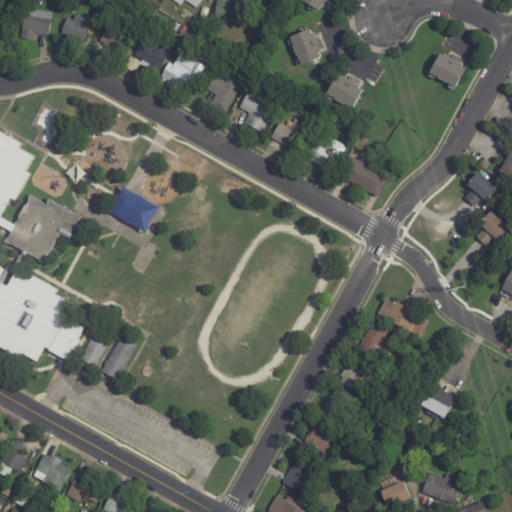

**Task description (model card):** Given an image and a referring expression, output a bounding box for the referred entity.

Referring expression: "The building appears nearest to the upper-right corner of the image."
[428,52,466,90]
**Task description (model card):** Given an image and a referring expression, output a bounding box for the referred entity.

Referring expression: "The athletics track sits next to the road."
[200,224,324,386]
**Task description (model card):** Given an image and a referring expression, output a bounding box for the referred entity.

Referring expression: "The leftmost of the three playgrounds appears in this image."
[33,167,67,198]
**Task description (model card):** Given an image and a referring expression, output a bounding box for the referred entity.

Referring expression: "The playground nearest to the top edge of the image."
[86,134,128,171]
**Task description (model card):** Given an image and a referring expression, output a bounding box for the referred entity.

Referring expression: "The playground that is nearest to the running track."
[143,174,176,204]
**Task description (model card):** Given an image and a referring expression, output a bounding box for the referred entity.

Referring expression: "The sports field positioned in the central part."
[208,230,318,377]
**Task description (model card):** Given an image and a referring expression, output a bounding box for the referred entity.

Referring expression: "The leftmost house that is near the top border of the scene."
[22,11,53,40]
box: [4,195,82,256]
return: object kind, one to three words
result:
building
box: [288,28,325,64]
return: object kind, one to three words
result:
house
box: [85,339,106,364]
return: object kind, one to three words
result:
shed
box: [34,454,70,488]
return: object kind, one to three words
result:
house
